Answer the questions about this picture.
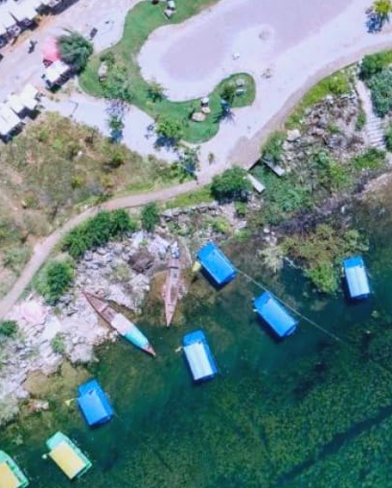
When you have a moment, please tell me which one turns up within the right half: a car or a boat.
boat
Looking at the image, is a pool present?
No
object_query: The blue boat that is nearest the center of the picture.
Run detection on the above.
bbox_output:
[195,242,236,285]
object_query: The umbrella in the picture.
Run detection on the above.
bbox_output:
[43,42,61,60]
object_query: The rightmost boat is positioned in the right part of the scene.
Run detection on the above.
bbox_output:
[344,257,369,300]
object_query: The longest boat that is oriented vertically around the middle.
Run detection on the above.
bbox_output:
[163,237,180,329]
